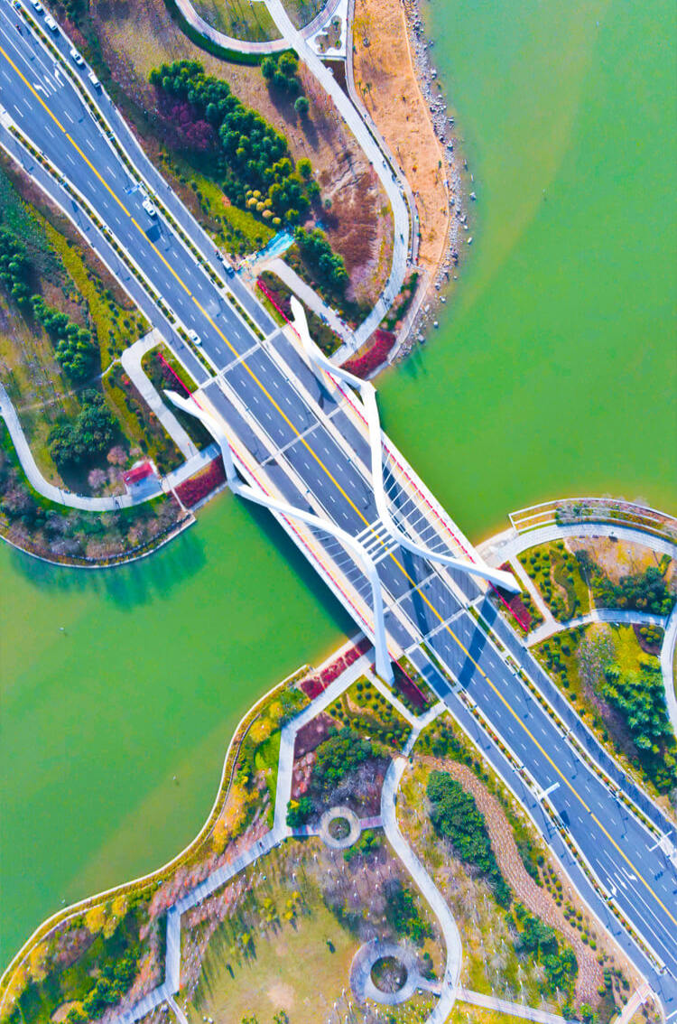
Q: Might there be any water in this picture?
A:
Yes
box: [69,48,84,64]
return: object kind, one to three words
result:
car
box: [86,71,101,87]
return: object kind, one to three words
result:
car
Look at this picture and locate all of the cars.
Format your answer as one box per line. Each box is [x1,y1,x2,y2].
[69,48,84,64]
[43,15,57,31]
[30,0,44,13]
[86,71,101,87]
[142,199,156,215]
[187,328,201,344]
